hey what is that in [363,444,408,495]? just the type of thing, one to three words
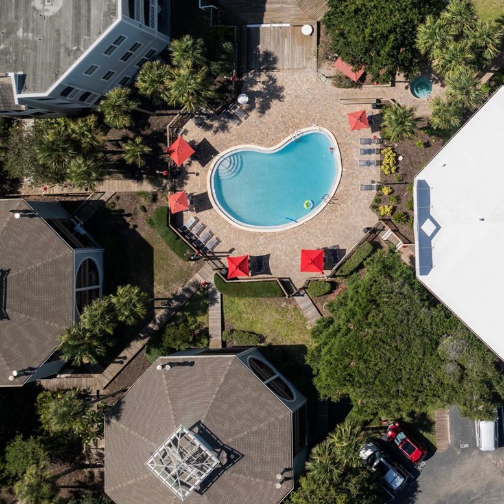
car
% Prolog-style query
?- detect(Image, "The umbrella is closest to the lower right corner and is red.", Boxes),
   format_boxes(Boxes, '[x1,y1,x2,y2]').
[301,250,324,273]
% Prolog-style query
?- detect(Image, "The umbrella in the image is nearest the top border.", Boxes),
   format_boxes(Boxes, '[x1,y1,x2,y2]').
[333,56,366,84]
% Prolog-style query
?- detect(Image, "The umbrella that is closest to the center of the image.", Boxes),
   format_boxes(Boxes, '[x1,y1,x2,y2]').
[227,254,250,277]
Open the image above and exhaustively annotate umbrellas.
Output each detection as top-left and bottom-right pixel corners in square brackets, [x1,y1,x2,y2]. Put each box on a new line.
[333,56,366,84]
[348,108,369,131]
[166,190,190,213]
[227,254,250,277]
[169,138,195,164]
[301,250,324,273]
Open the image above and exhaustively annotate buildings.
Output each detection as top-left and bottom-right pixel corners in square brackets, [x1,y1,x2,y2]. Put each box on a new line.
[104,343,319,504]
[0,190,112,387]
[0,0,169,107]
[410,84,504,359]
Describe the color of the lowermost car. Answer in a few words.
black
